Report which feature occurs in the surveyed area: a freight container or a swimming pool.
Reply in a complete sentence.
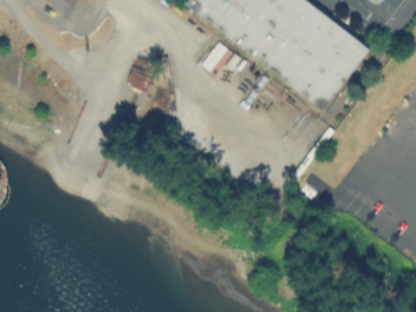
Visible in the photo is a freight container.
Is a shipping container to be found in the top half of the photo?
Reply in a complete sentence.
Yes, a shipping container appears in the top half of the photo.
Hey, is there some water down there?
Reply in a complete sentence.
Yes, there's water in this view.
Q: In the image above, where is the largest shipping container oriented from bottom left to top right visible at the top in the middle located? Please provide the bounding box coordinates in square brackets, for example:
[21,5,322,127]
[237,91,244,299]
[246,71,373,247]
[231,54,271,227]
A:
[202,42,230,73]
